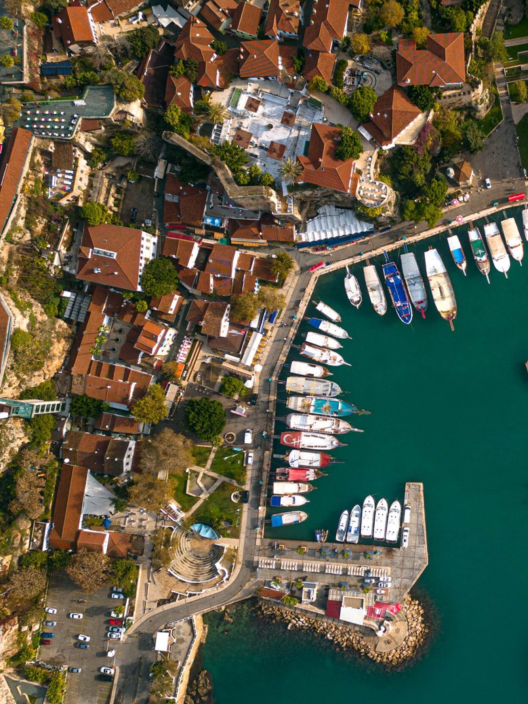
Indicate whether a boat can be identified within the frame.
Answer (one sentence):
Yes, I can see a boat in this picture.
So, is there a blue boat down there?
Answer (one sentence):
Yes, a blue boat appears in the view.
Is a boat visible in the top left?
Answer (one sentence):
No, no boat appears in the top left.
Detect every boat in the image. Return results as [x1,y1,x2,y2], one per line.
[374,499,387,541]
[336,510,348,541]
[468,218,489,284]
[268,467,328,481]
[275,372,348,397]
[274,412,362,435]
[263,511,307,528]
[296,328,343,347]
[346,505,361,543]
[361,255,383,315]
[274,390,370,416]
[396,241,424,318]
[273,448,336,468]
[302,313,351,339]
[376,249,408,323]
[361,495,375,538]
[448,224,467,275]
[416,238,455,330]
[338,264,360,312]
[263,482,315,495]
[270,430,345,450]
[277,356,333,377]
[261,495,309,507]
[494,206,522,266]
[483,206,507,278]
[287,339,351,364]
[312,295,342,321]
[385,501,400,543]
[523,205,528,236]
